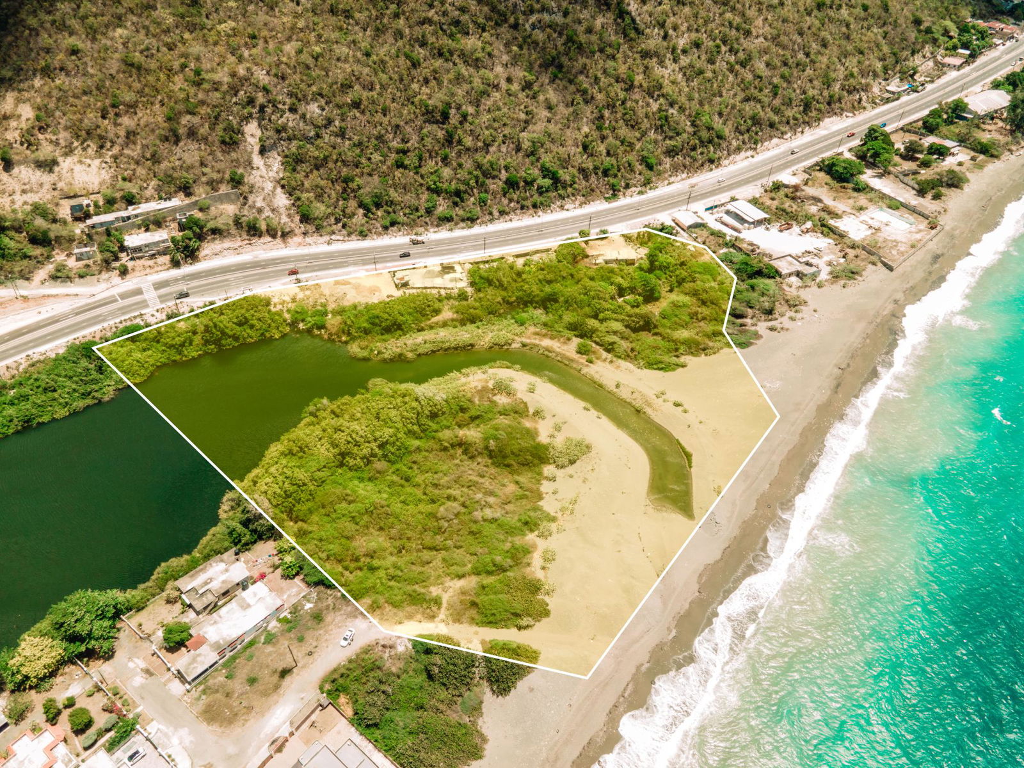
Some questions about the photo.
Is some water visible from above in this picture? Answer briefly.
Yes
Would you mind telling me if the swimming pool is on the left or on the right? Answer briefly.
right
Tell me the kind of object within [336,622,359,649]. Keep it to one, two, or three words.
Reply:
car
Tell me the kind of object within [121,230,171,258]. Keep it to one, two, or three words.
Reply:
house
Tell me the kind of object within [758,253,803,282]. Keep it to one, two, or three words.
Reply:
house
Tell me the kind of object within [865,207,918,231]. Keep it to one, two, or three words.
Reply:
swimming pool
